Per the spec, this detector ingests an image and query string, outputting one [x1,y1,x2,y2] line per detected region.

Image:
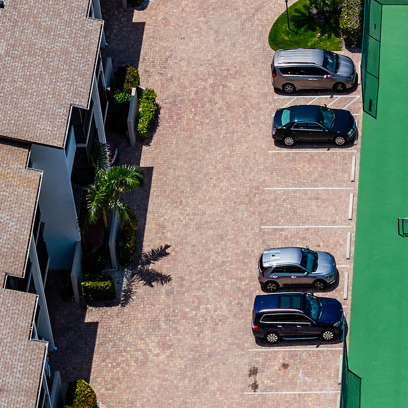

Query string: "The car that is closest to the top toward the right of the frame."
[272,45,358,94]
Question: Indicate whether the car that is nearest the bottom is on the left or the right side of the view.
right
